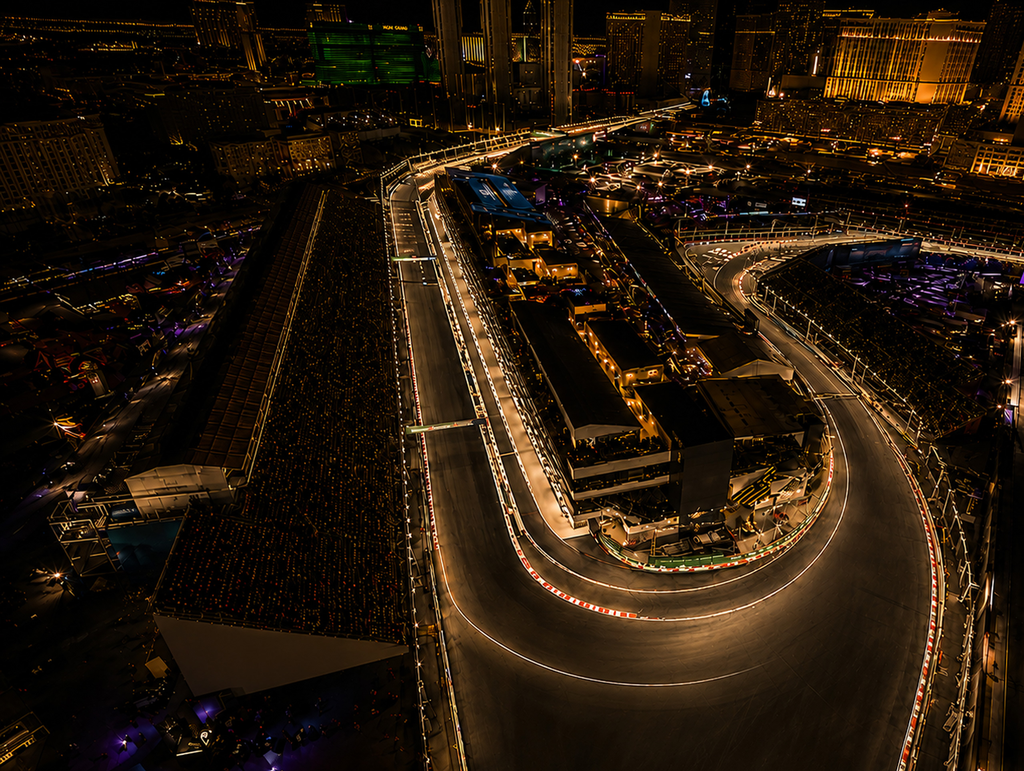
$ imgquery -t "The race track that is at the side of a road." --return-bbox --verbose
[390,176,1024,771]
